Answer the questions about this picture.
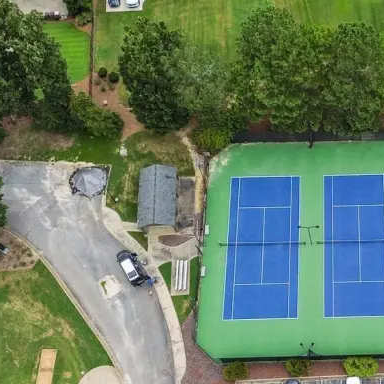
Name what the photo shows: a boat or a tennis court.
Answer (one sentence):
Of the two, only a tennis court appears.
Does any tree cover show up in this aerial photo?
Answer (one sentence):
Yes, some tree cover is visible.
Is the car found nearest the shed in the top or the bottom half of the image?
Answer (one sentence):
Seen from above, the car found nearest the shed lies in the bottom half of the view.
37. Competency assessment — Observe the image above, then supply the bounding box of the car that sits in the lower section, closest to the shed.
[119,250,150,287]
